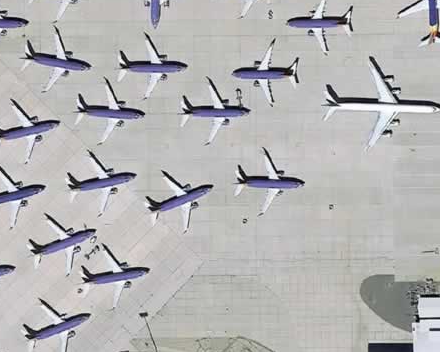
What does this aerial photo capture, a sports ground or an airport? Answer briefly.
airport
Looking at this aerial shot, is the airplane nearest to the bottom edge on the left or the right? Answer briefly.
left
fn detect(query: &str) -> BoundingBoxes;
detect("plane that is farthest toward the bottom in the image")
[21,301,91,352]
